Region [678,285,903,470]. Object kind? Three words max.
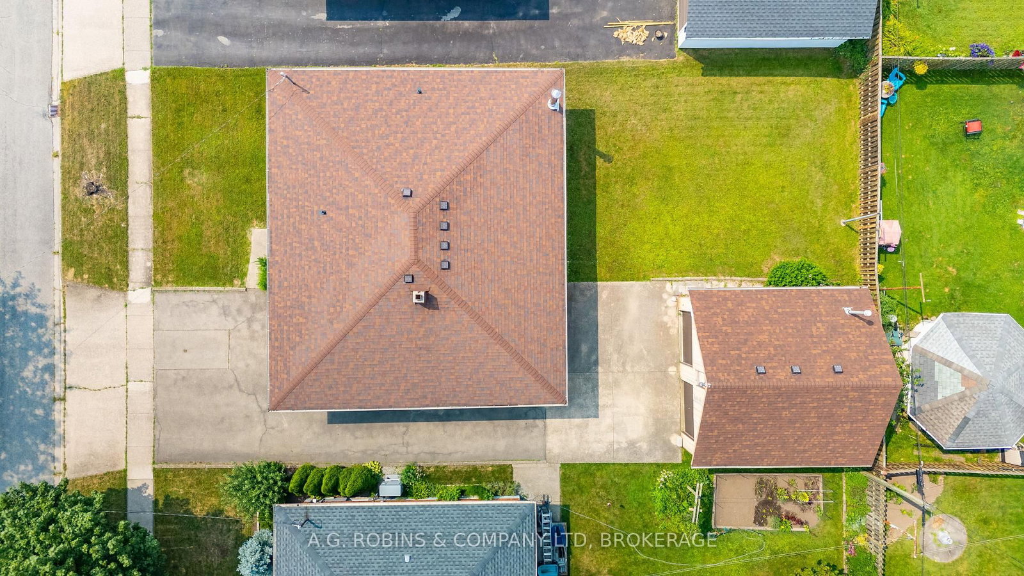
building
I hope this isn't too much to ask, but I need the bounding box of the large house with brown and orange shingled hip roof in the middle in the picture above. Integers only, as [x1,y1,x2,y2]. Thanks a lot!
[266,67,567,410]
